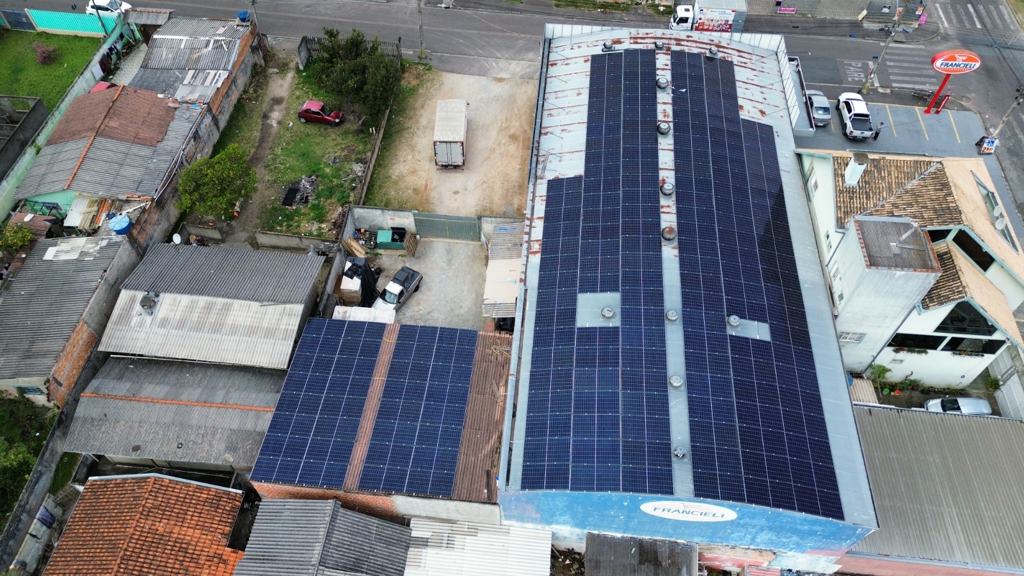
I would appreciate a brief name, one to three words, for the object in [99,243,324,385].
house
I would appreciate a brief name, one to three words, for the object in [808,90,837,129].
car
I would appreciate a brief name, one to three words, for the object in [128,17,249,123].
building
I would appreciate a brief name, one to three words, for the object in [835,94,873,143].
truck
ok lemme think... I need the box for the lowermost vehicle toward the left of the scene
[372,263,427,319]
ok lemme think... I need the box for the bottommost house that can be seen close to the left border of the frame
[44,470,255,576]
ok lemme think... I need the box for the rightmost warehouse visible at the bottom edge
[827,406,1024,576]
